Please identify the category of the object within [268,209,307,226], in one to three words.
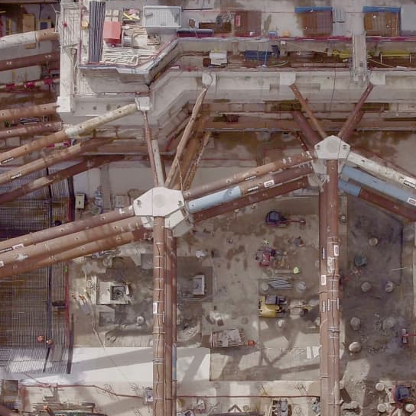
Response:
work vehicle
